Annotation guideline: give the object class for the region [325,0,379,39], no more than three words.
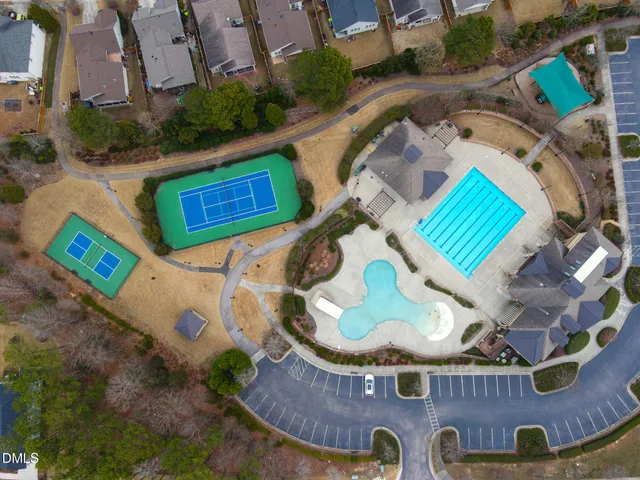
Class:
house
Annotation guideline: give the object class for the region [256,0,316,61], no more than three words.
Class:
house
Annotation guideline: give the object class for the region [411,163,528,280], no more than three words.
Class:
swimming pool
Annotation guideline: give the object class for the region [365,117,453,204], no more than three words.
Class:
building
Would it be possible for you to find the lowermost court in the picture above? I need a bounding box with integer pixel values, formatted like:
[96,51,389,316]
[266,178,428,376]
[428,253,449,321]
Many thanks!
[41,212,141,300]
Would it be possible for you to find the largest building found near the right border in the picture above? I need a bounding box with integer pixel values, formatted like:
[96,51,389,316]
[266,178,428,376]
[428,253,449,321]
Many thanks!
[502,226,624,366]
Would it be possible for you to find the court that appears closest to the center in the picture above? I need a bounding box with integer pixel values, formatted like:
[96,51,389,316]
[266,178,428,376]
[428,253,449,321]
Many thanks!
[149,149,302,249]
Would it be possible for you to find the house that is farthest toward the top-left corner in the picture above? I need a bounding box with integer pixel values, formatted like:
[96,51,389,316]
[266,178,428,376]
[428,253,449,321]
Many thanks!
[0,10,45,82]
